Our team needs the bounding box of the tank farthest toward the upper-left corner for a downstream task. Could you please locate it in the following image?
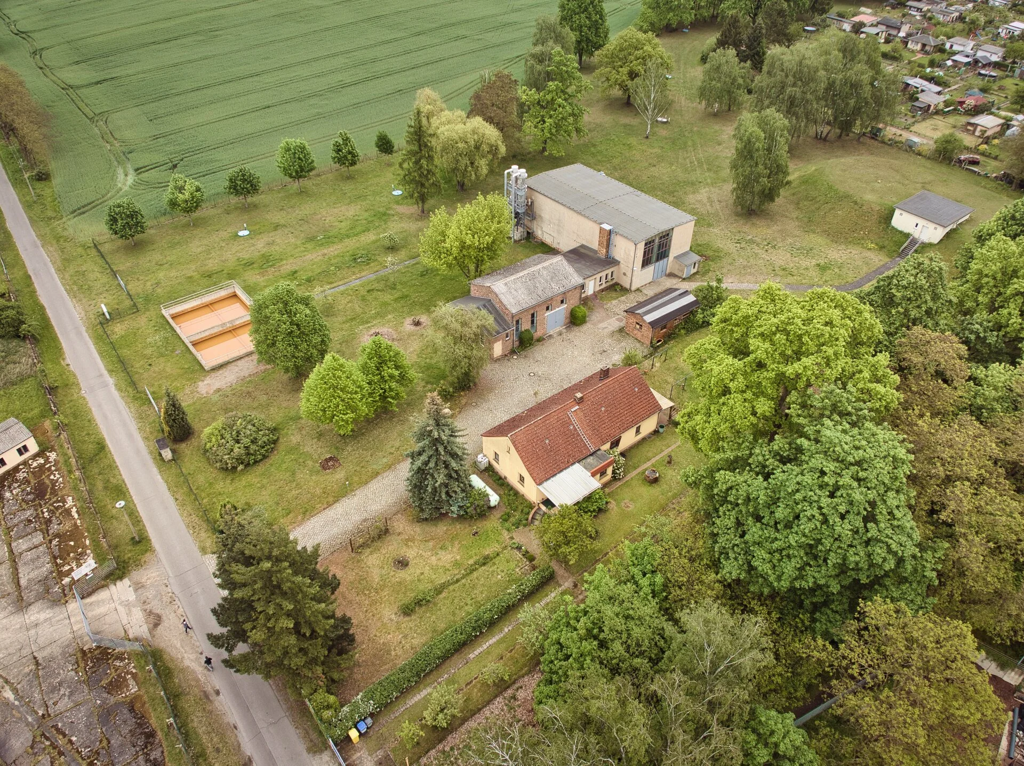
[161,279,261,371]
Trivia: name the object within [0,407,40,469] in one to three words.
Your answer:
shed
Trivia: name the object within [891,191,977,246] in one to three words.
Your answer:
building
